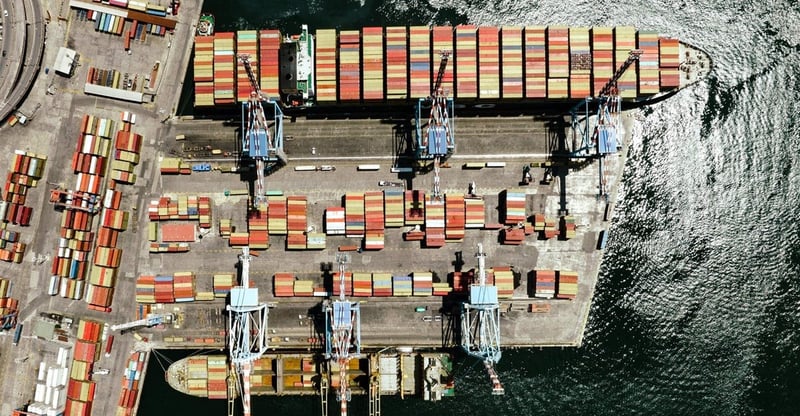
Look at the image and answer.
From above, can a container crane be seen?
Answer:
Yes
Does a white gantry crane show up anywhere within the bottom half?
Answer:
Yes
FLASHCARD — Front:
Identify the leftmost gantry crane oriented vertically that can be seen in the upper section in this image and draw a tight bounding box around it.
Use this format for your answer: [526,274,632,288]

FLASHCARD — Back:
[231,47,292,201]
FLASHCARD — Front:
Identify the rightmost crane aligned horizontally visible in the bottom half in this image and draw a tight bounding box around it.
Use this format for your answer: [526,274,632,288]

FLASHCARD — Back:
[110,310,175,332]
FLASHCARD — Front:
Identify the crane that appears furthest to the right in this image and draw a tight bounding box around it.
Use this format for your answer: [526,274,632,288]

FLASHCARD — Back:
[570,49,644,203]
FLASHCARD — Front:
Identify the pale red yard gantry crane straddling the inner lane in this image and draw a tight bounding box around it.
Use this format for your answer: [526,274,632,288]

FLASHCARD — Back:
[48,192,108,216]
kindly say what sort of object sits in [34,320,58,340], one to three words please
shed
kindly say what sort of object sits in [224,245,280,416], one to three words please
container crane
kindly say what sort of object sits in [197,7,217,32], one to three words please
boat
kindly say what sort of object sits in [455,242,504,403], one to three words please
container crane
